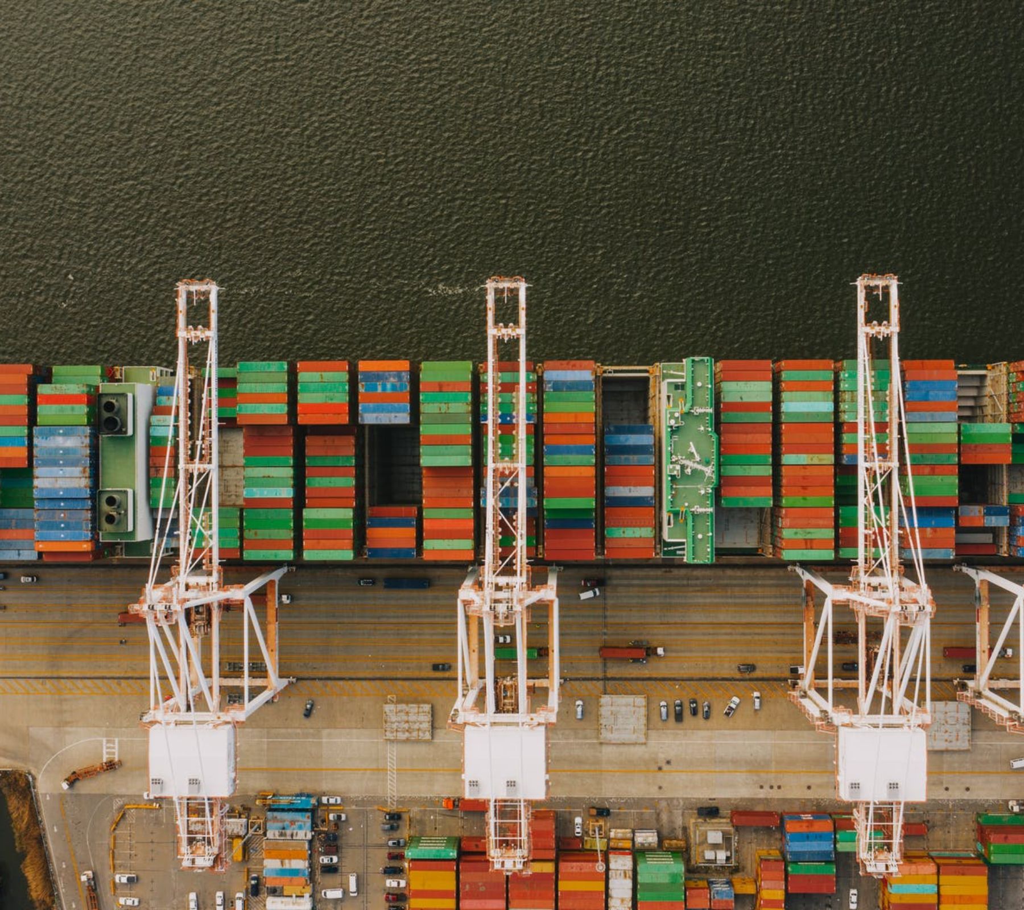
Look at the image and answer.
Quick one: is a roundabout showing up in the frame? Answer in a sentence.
No, the photo shows no roundabout.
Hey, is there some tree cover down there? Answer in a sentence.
No, the scene doesn't show any tree cover.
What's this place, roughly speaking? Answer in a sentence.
The picture captures a port.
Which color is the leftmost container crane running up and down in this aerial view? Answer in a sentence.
The color of the leftmost container crane running up and down is white.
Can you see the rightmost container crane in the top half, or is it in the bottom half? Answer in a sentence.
The rightmost container crane sits in the bottom half of the picture.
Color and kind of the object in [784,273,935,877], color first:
white container crane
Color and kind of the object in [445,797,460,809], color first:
orange vehicle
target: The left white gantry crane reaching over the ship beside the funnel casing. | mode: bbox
[129,275,293,872]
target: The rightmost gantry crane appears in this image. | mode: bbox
[954,570,1024,738]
